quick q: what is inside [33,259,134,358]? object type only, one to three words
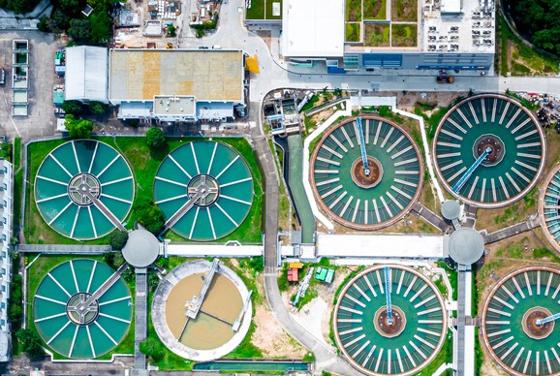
storage tank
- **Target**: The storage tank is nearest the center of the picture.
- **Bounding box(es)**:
[154,141,254,242]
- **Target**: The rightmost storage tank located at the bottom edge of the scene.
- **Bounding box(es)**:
[152,257,254,361]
